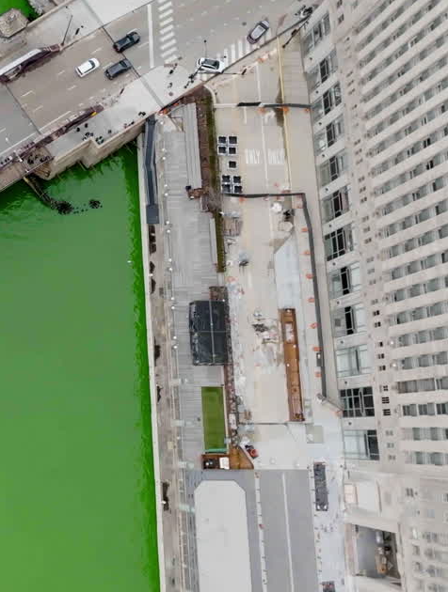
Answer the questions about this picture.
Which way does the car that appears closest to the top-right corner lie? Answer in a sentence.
The car that appears closest to the top-right corner is oriented at an angle.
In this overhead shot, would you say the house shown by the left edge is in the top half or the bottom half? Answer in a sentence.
The top half of the photo is where the house shown by the left edge is.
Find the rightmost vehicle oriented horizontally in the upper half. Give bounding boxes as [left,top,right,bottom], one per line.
[196,59,223,72]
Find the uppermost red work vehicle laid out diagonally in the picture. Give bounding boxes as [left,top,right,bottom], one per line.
[243,439,259,459]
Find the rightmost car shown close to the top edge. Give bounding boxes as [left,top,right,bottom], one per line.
[247,19,269,43]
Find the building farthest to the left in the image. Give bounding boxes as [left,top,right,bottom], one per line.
[0,8,29,48]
